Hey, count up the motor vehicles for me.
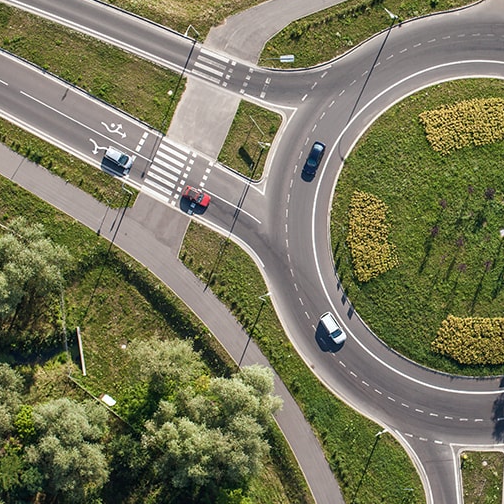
4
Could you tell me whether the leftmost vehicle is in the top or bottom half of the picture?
top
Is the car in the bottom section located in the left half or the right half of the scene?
right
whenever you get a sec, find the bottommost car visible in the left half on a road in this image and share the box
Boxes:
[182,186,210,206]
